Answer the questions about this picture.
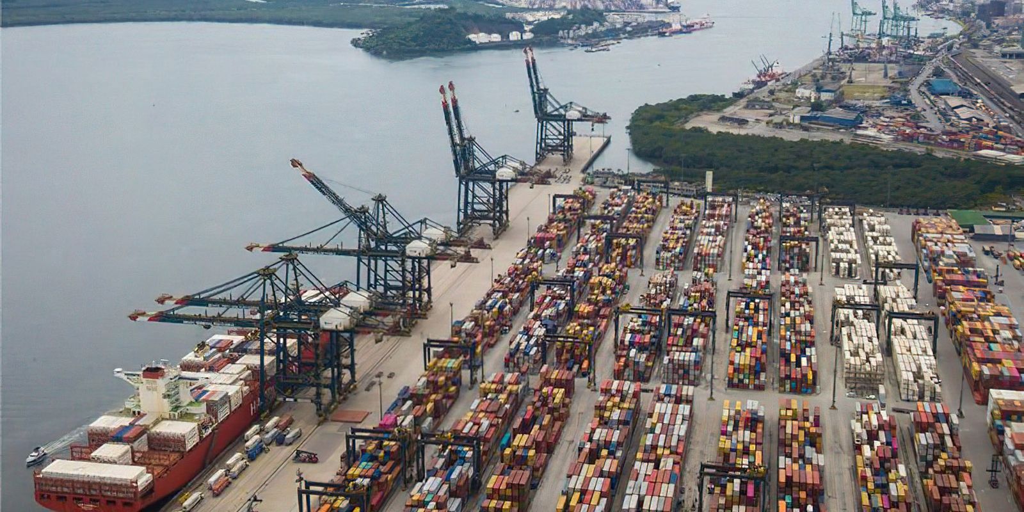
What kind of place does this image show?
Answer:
port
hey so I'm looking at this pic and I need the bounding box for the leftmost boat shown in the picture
[26,443,50,462]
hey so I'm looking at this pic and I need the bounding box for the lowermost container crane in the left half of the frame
[298,476,372,512]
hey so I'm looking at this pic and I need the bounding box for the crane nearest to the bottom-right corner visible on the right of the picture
[883,309,939,351]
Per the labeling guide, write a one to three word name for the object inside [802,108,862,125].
building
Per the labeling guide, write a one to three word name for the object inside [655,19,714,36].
ship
